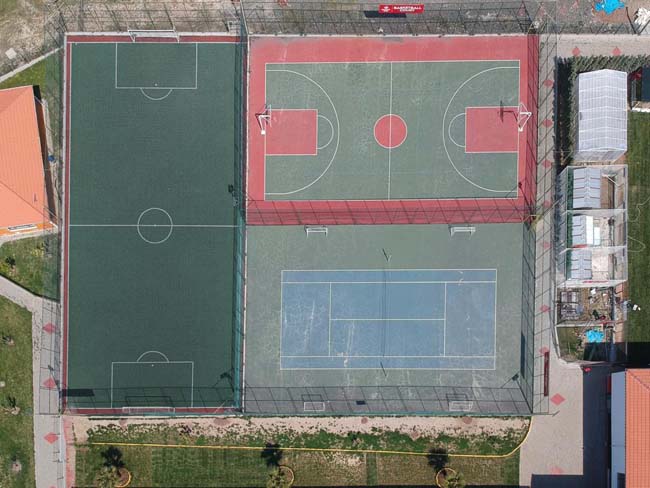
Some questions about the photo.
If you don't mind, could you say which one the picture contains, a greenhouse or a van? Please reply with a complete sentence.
Visible in the photo is a greenhouse.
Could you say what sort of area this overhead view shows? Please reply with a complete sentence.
The picture captures a sports ground.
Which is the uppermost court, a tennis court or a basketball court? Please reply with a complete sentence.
Specifically, the uppermost court is a basketball court.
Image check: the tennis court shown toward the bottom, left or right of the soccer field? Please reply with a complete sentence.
In the image, the tennis court shown toward the bottom sits on the right side of the soccer field.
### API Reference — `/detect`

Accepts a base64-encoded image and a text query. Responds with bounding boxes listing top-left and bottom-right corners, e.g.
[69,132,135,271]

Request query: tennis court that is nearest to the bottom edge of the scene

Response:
[244,223,535,416]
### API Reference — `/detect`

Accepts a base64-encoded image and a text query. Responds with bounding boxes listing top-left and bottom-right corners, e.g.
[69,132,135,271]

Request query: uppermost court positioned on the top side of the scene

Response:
[246,37,538,225]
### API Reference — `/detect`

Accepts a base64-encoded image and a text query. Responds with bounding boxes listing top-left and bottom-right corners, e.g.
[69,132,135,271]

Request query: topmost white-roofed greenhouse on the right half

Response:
[571,67,628,164]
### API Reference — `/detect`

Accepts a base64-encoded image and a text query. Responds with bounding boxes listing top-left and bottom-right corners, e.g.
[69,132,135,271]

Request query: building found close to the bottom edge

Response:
[597,369,650,488]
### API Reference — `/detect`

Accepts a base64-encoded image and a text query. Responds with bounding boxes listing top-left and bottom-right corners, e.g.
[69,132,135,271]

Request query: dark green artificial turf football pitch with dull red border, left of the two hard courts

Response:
[62,35,247,412]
